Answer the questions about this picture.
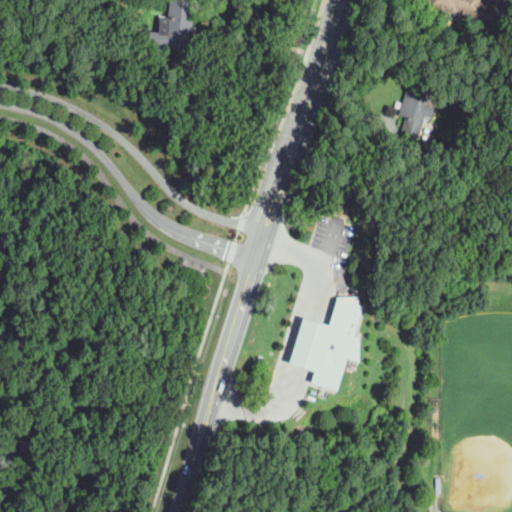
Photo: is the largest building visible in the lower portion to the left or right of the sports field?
left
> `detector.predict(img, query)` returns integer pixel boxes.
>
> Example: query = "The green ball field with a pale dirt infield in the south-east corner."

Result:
[442,312,512,512]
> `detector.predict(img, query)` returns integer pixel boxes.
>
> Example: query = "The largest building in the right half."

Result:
[289,296,363,394]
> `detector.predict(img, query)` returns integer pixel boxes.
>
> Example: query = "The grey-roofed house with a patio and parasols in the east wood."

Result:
[400,93,434,134]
